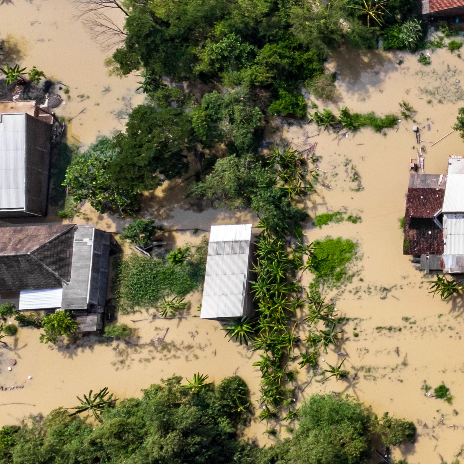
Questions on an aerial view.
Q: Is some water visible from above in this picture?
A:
Yes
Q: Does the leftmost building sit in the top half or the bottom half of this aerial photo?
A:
top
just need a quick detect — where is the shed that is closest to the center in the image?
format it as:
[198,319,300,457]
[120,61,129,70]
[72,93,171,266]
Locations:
[201,224,264,319]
